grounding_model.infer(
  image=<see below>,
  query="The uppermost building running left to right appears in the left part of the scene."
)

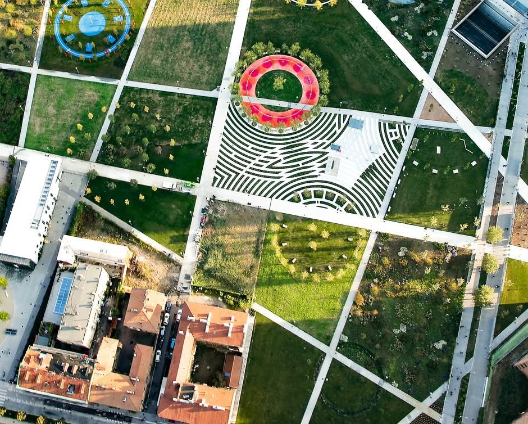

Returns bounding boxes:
[55,233,132,268]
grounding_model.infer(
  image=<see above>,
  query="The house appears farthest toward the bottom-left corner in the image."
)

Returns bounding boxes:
[15,346,97,402]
